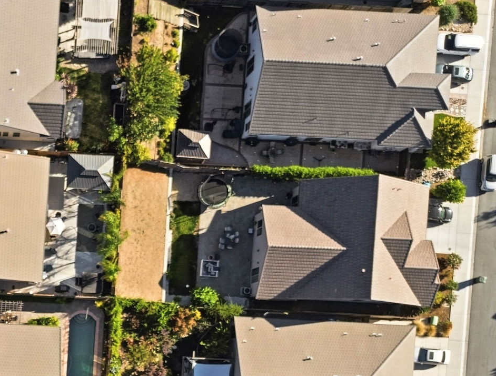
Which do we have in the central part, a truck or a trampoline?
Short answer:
trampoline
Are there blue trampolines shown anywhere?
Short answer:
No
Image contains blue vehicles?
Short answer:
No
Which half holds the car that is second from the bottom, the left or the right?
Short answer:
right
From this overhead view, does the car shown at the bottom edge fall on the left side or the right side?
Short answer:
right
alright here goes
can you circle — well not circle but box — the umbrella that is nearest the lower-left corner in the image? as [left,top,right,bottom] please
[45,218,64,237]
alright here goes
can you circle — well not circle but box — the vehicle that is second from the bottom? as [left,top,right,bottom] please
[425,203,458,223]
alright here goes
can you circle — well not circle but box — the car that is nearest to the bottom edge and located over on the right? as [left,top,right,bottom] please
[414,347,452,367]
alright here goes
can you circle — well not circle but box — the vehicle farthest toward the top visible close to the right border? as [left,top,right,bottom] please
[438,32,484,57]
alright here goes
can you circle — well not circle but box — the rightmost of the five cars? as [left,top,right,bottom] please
[477,155,496,194]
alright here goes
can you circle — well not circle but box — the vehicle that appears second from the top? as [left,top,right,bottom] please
[437,61,475,85]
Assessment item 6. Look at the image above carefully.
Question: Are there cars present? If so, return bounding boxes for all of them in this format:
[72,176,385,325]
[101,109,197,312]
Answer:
[438,32,484,57]
[477,155,496,194]
[437,61,475,85]
[425,203,458,223]
[414,347,452,367]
